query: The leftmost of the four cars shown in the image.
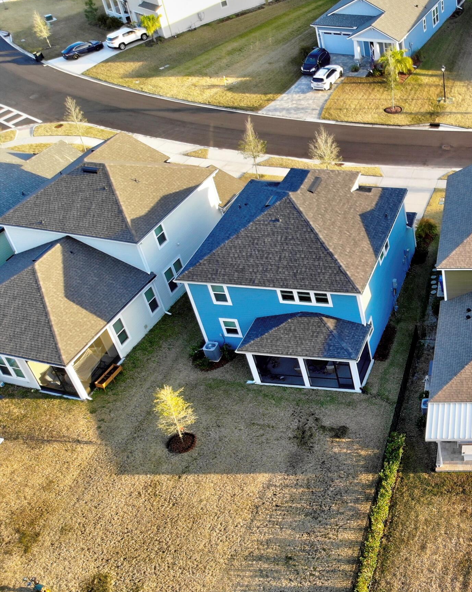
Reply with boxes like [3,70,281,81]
[56,39,101,59]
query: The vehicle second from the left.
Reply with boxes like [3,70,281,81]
[101,26,147,50]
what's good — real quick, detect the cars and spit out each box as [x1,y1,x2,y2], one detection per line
[310,66,341,89]
[101,26,147,50]
[302,43,326,69]
[56,39,101,59]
